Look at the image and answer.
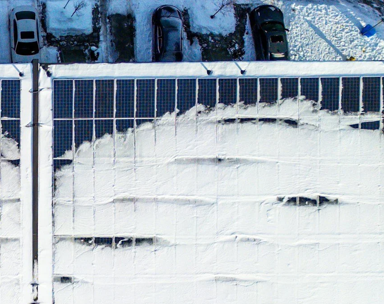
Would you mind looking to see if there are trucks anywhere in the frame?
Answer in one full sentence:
No, this view has no truck in it.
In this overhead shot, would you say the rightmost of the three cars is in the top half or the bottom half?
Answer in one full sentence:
You can find the rightmost of the three cars in the top half.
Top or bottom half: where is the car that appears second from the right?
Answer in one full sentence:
The top half of the photo is where the car that appears second from the right is.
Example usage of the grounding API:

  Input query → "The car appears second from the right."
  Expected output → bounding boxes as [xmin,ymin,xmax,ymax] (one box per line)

[149,7,189,60]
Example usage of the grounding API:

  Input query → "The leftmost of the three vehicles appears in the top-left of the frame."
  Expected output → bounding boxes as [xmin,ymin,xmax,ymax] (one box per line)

[8,4,45,60]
